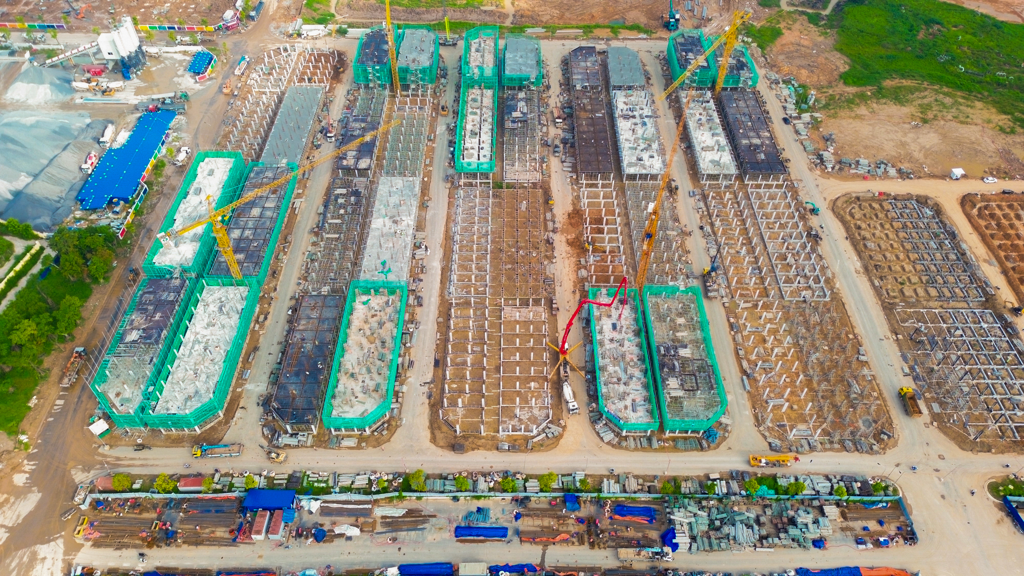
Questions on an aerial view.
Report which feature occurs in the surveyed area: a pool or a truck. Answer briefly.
truck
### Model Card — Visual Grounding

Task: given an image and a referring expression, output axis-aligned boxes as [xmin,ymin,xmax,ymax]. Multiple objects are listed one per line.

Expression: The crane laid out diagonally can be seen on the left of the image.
[149,118,401,280]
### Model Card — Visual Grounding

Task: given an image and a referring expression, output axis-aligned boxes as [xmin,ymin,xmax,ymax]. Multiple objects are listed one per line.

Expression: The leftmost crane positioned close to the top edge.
[379,0,401,101]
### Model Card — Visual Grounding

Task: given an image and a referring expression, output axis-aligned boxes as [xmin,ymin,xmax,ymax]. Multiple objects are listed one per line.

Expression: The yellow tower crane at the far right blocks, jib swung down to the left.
[661,7,749,100]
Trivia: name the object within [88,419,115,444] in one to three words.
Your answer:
building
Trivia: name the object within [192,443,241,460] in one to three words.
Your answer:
vehicle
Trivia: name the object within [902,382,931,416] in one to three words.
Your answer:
truck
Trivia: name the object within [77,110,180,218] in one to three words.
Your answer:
shed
